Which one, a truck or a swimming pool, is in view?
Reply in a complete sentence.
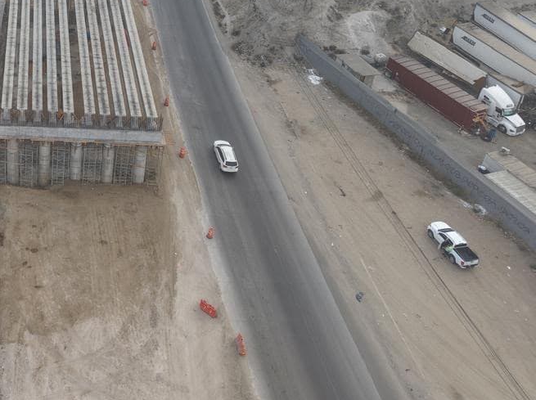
Looking from above, you can make out a truck.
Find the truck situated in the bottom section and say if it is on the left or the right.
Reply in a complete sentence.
The truck situated in the bottom section is on the right side of the image.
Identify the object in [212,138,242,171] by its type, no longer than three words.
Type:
car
